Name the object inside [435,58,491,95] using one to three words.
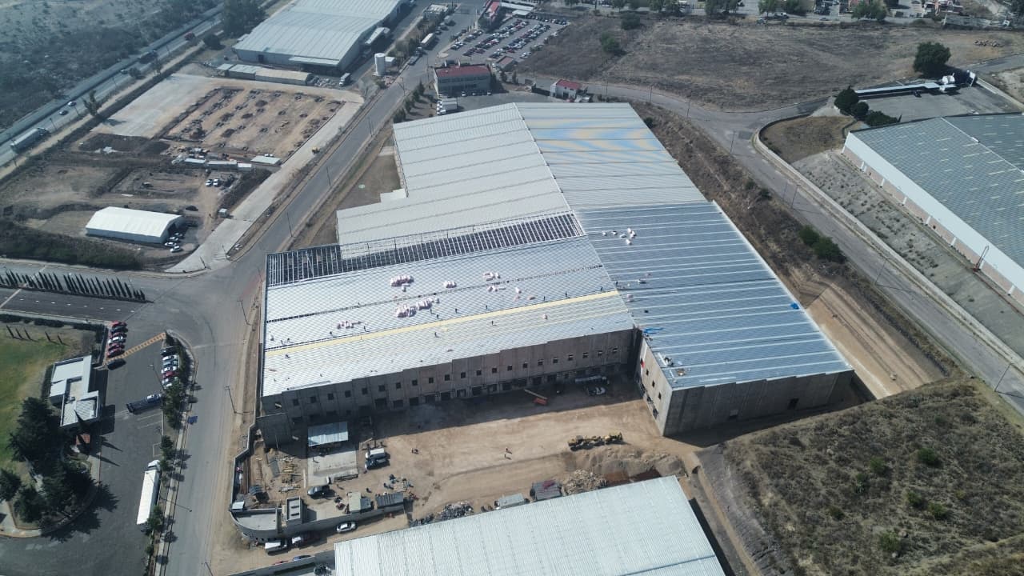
building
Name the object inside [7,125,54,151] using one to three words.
truck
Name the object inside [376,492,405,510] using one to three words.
shed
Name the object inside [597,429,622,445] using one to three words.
work vehicle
